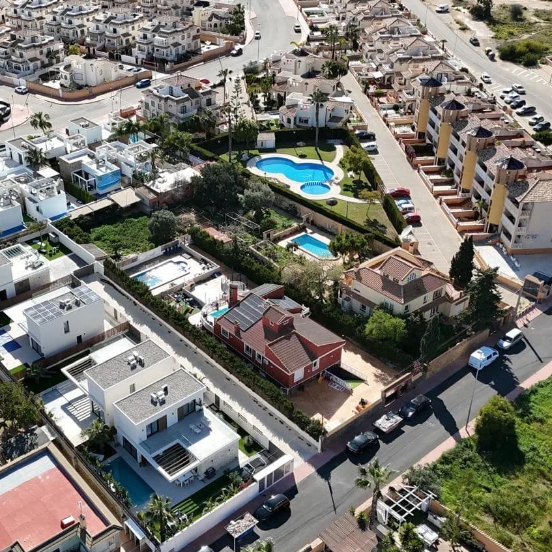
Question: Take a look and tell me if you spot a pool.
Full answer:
Yes, the photo shows a pool.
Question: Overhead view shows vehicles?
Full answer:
Yes, a vehicle appears in the view.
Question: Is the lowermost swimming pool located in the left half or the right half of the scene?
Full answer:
It is on the left.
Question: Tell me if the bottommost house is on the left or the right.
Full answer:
It is on the left.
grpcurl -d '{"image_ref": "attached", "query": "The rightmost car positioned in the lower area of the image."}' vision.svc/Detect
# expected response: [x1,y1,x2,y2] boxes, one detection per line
[499,325,523,346]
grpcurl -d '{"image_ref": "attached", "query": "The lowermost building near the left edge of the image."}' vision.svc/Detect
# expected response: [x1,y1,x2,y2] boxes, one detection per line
[0,442,129,552]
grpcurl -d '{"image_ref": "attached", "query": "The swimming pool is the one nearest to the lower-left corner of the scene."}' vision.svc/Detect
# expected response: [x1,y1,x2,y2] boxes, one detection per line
[106,449,157,504]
